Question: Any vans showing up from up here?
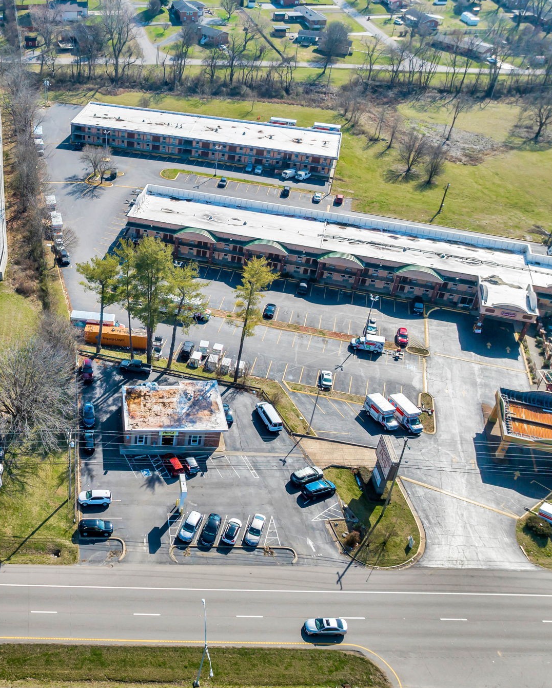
Yes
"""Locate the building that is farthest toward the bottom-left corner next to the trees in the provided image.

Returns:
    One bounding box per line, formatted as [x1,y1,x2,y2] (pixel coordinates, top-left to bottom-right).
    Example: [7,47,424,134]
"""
[121,378,229,445]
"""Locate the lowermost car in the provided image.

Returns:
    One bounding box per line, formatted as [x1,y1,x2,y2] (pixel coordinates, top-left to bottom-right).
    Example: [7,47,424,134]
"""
[302,618,348,639]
